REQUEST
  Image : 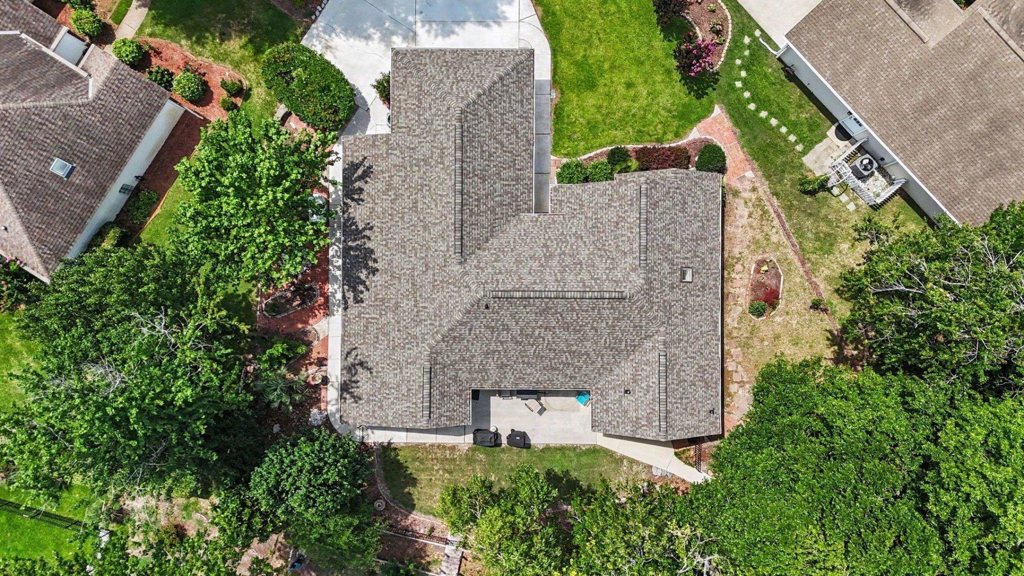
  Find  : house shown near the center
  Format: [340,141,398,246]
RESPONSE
[339,48,721,442]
